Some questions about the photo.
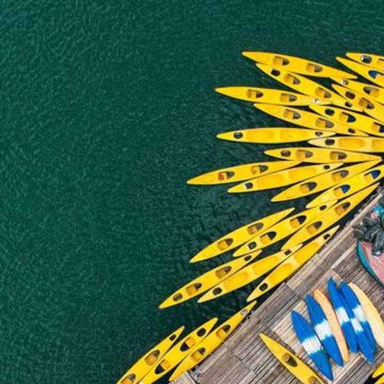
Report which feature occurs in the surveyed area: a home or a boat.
boat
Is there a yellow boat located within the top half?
Yes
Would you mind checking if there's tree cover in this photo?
No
